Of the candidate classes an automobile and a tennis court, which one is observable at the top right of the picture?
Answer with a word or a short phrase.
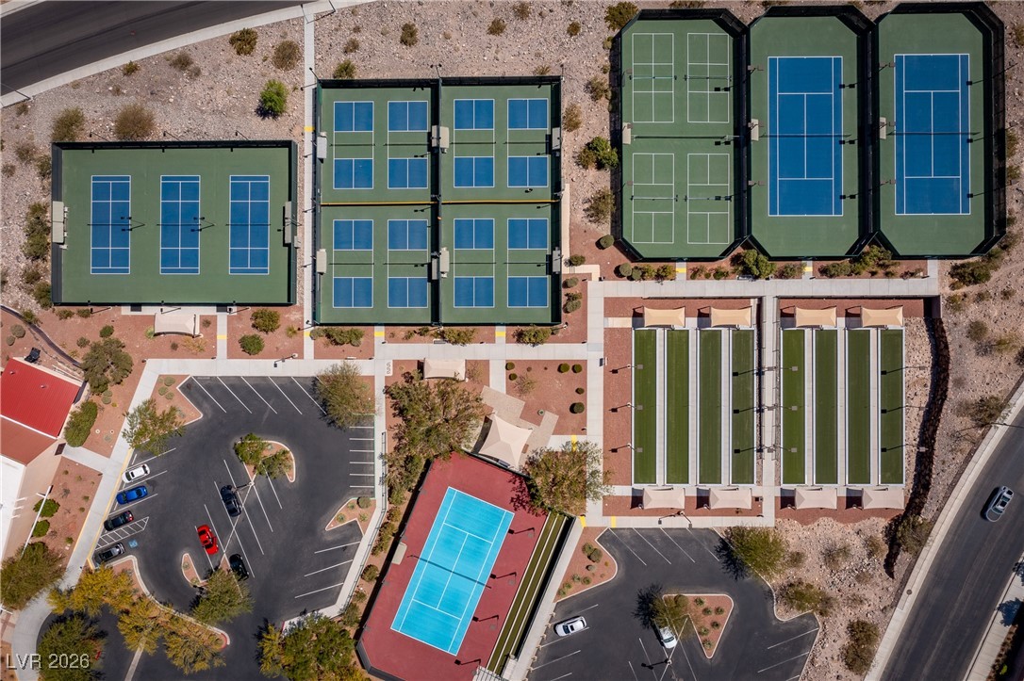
tennis court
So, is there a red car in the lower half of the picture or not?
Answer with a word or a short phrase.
Yes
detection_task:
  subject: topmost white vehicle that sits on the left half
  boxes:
[121,463,152,483]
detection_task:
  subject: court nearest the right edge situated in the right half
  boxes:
[875,11,992,255]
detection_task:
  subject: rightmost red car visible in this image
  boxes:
[198,524,222,554]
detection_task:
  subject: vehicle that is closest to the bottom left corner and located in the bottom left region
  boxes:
[94,542,126,563]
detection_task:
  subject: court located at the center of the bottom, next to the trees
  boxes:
[357,455,548,681]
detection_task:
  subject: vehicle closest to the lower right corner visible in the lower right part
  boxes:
[982,489,1011,522]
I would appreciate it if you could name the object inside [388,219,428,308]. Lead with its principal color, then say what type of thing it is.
blue sports court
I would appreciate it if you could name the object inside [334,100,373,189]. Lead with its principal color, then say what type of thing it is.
blue sports court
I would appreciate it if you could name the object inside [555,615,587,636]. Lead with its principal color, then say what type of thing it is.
white car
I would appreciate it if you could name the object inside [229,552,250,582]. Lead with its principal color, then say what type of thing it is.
black car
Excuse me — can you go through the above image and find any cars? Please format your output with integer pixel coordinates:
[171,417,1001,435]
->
[121,463,152,483]
[94,542,126,563]
[105,510,135,530]
[229,552,250,582]
[198,524,222,554]
[220,484,242,517]
[982,489,1011,522]
[555,615,587,636]
[654,616,675,649]
[117,485,149,504]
